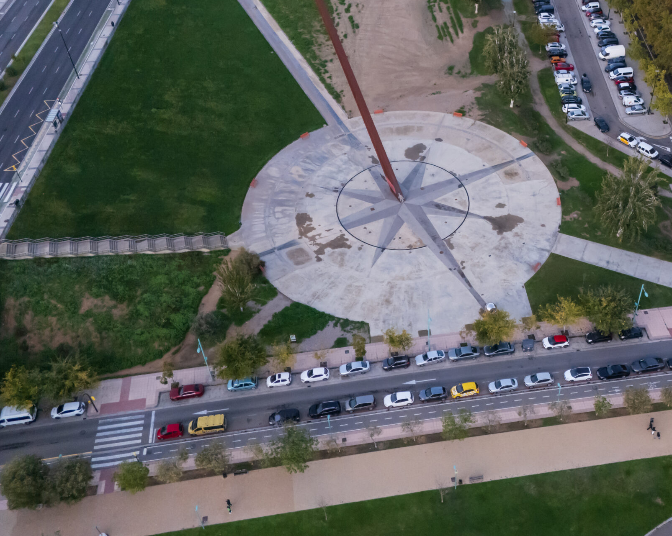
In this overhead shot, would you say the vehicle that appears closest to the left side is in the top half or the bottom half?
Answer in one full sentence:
The vehicle that appears closest to the left side is in the bottom half of the image.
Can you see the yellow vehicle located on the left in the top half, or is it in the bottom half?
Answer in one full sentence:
The bottom half of the photo is where the yellow vehicle located on the left is.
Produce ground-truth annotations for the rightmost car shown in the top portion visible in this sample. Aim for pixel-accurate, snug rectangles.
[656,154,672,169]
